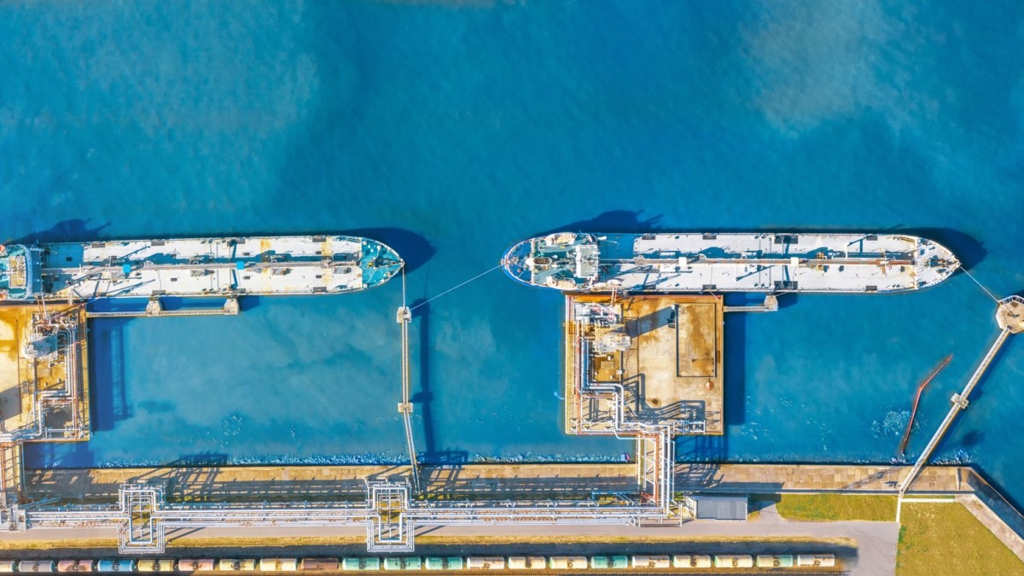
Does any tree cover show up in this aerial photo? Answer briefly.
No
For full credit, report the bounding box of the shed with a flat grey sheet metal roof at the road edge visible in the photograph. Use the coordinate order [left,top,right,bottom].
[693,494,748,519]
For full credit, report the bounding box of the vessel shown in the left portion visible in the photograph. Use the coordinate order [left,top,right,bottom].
[0,236,412,300]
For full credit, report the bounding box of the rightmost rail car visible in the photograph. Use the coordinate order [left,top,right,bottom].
[794,553,836,567]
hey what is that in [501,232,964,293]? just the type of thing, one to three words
ship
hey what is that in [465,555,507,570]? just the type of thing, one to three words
rail car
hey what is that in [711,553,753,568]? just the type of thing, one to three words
rail car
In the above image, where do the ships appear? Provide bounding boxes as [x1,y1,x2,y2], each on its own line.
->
[0,236,412,300]
[501,232,964,293]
